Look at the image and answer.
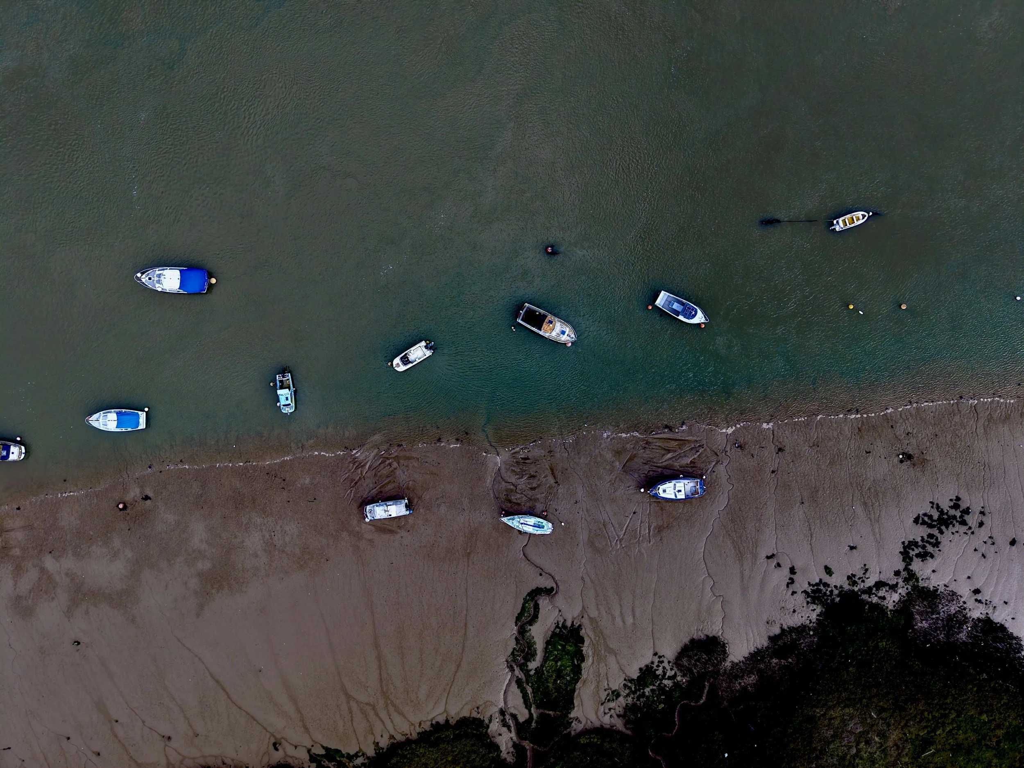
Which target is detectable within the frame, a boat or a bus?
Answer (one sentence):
The image shows a boat.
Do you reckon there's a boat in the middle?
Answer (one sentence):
Yes, there is a boat in the middle.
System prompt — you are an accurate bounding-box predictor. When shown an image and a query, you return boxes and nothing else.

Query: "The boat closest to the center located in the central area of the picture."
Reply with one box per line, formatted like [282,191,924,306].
[516,303,577,343]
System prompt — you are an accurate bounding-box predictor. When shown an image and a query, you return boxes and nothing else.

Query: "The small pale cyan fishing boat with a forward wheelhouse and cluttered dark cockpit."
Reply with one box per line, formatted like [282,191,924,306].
[276,366,295,415]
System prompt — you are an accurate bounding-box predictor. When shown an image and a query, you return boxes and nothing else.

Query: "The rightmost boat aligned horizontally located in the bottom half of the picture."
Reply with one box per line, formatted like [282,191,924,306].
[648,478,707,501]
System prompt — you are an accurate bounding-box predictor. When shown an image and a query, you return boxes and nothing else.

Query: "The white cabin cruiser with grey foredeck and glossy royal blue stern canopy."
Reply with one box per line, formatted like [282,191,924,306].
[134,267,210,294]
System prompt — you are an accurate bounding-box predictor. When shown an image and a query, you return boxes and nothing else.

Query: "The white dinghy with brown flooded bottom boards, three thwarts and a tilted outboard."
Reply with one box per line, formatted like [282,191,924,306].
[828,211,869,231]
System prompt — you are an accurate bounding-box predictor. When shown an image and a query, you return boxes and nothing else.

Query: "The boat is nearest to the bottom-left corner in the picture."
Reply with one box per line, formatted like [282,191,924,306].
[0,440,27,461]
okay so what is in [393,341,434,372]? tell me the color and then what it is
white boat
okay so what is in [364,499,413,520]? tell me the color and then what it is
white boat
